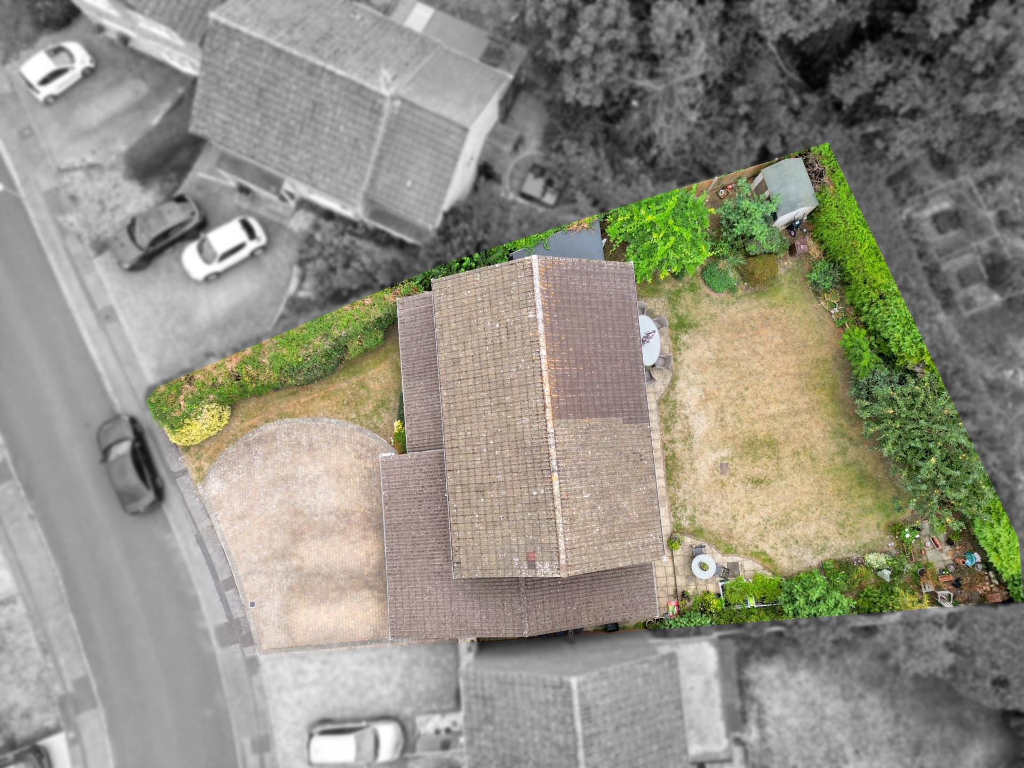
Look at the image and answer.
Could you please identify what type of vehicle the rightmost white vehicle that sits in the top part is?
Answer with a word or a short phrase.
automobile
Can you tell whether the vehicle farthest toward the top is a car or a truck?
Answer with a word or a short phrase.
car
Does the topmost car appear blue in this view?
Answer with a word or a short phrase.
No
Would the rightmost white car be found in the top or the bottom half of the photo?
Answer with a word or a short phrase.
bottom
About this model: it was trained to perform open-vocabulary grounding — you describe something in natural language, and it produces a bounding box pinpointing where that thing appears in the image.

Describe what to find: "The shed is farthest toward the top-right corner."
[748,158,819,229]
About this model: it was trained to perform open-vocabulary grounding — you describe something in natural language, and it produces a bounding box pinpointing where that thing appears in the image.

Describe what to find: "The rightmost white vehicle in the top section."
[179,216,268,280]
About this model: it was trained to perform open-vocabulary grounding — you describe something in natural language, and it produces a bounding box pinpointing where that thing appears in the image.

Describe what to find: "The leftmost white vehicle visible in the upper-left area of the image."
[17,41,94,103]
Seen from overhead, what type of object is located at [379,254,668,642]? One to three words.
house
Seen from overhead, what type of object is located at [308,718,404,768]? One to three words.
car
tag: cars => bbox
[0,727,62,768]
[99,414,167,516]
[114,191,208,272]
[179,216,268,280]
[308,718,404,768]
[17,41,94,103]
